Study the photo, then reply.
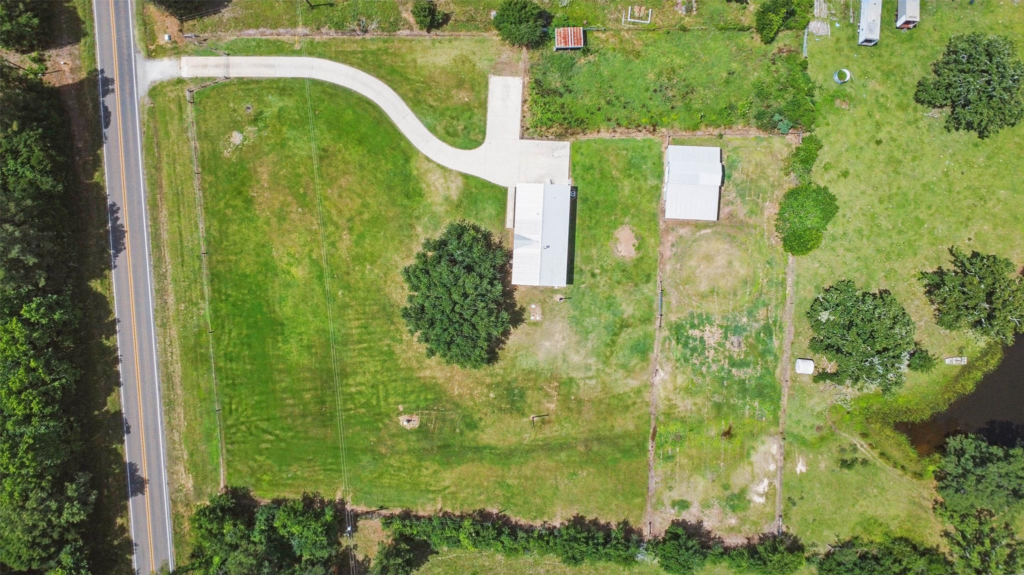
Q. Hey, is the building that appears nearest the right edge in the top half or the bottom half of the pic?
top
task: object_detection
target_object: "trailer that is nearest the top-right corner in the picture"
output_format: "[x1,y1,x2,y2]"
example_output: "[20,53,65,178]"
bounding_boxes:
[894,0,920,28]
